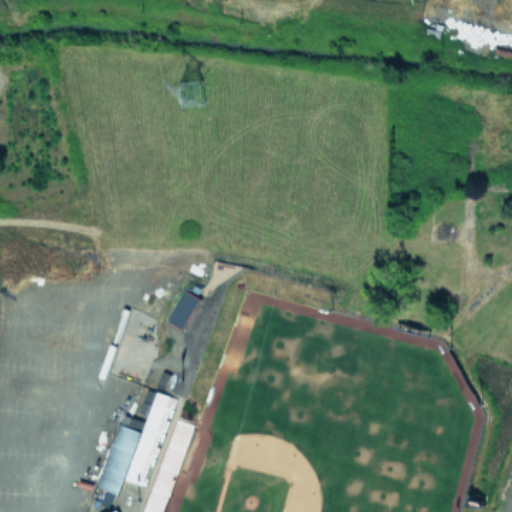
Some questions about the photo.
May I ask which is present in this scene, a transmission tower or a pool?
transmission tower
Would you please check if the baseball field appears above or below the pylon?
below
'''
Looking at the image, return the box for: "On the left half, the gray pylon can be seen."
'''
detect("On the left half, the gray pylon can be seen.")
[166,80,206,108]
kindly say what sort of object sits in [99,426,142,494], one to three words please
building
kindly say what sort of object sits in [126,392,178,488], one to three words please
building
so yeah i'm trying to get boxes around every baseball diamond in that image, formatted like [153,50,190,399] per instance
[167,294,485,512]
